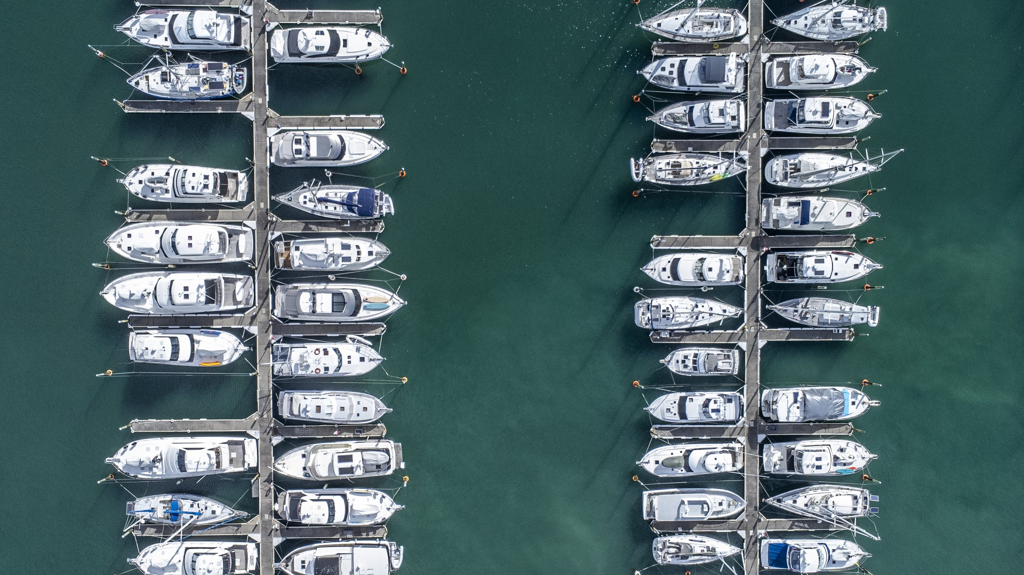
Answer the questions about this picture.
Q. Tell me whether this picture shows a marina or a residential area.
marina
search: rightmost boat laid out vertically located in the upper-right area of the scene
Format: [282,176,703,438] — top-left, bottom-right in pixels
[876,7,890,34]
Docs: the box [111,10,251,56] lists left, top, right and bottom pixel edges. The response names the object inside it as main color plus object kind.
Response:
white boat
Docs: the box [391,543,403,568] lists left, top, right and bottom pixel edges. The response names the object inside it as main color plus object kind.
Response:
white boat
